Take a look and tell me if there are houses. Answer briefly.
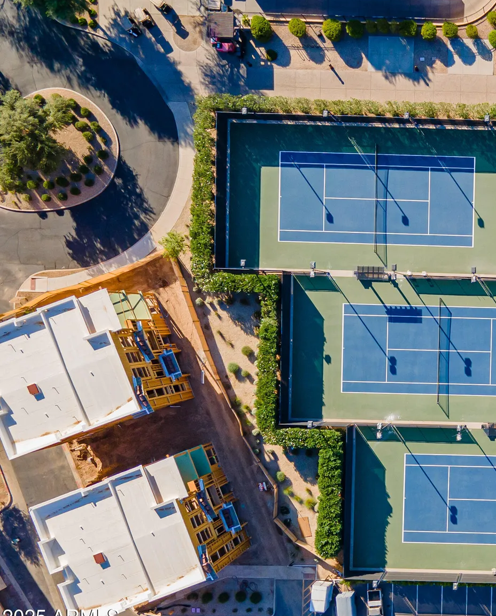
Yes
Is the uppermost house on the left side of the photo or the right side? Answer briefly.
left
